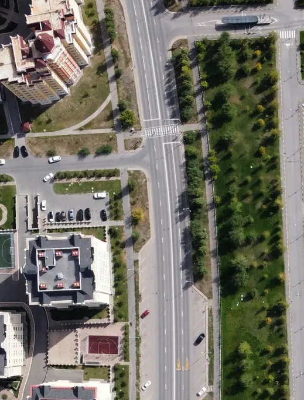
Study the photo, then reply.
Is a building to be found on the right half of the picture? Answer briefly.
No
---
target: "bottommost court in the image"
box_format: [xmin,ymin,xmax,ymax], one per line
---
[88,335,118,354]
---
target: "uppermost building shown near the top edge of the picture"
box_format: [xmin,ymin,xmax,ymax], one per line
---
[24,0,90,52]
